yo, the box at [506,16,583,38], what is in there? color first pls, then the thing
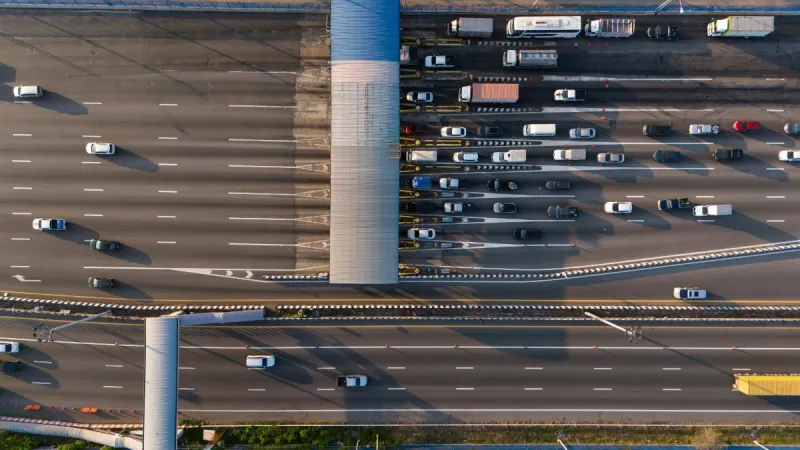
white bus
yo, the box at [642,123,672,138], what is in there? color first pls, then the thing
black car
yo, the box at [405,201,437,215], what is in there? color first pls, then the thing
black vehicle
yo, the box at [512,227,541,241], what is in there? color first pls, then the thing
black car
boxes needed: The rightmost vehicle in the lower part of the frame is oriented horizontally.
[737,373,800,395]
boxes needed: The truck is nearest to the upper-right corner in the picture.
[705,14,780,37]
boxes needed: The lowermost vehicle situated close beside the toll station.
[407,227,435,241]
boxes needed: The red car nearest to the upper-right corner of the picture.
[731,120,761,133]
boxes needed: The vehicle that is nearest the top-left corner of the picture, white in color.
[13,84,44,98]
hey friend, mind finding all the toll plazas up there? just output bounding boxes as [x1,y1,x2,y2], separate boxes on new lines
[328,0,401,285]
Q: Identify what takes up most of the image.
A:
paved ground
